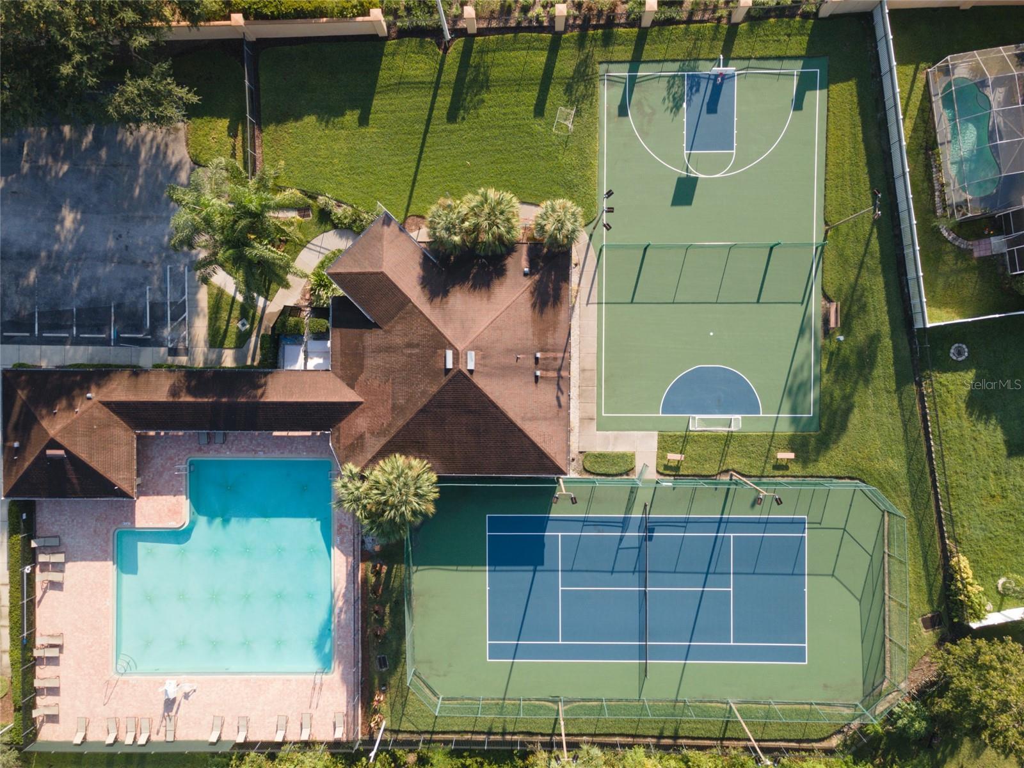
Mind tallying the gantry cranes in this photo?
0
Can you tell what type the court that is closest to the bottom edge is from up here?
tennis court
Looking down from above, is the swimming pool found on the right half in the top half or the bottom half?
top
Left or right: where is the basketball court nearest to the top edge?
right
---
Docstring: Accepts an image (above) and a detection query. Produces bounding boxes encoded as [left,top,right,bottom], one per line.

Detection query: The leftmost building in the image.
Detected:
[1,203,572,500]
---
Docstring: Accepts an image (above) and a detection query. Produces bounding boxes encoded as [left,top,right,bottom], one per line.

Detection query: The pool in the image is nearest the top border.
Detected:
[940,74,1004,200]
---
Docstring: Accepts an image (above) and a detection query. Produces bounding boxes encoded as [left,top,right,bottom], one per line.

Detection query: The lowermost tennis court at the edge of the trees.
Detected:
[413,477,887,699]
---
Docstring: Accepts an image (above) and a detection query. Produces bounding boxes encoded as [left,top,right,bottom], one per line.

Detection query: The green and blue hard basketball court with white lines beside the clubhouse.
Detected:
[585,57,829,431]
